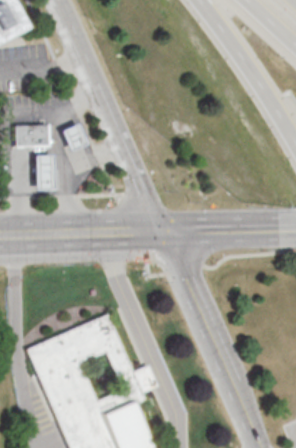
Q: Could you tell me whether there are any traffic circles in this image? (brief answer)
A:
No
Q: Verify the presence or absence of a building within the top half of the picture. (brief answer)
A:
Yes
